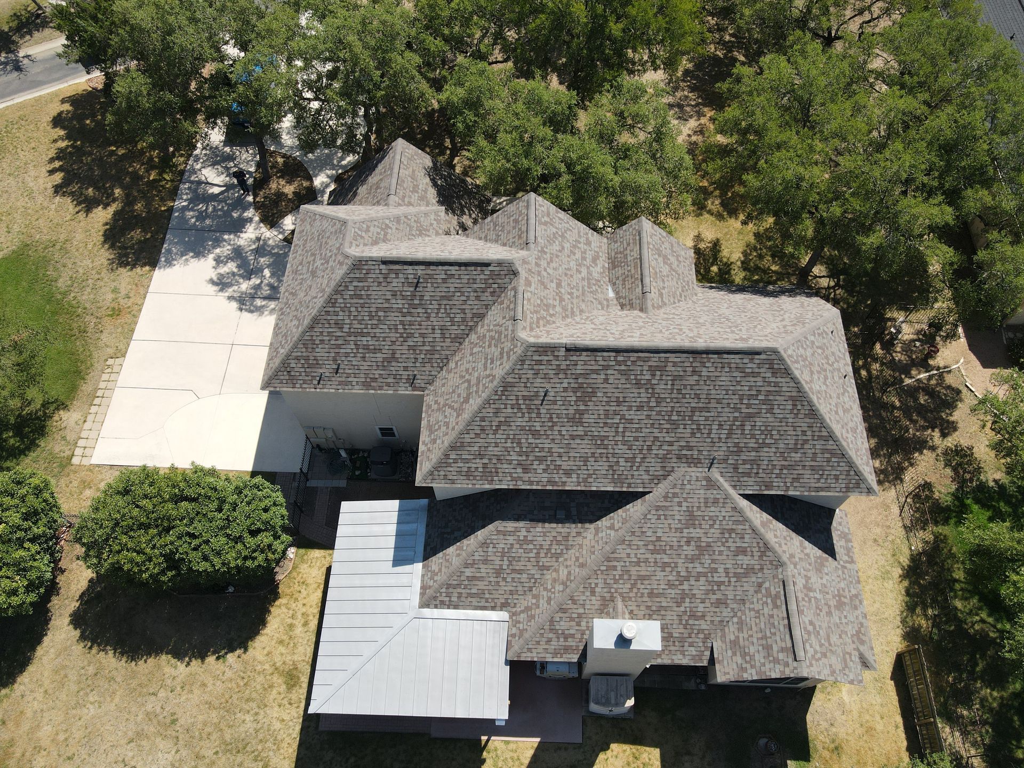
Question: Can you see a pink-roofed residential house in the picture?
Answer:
No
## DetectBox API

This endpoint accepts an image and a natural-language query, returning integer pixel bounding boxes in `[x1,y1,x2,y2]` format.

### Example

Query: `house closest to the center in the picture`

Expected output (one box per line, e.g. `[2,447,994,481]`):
[260,139,878,725]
